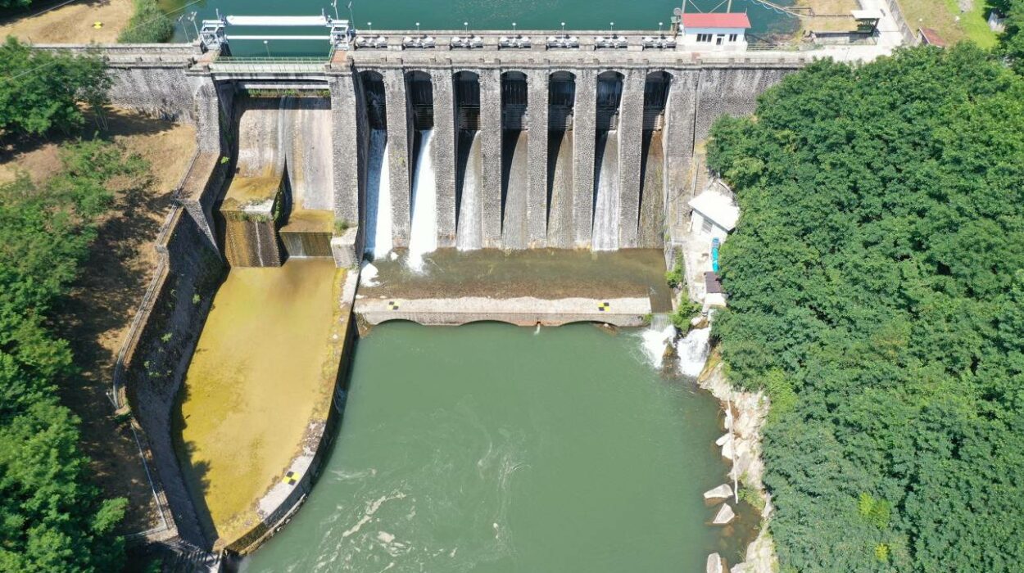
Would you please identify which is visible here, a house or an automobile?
house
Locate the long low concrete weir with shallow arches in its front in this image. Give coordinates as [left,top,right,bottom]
[354,295,652,326]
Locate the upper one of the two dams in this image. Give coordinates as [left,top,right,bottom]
[0,30,1024,264]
